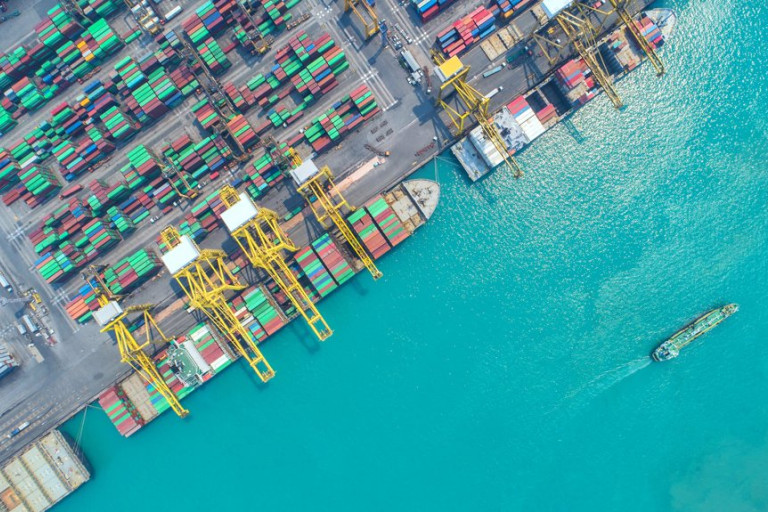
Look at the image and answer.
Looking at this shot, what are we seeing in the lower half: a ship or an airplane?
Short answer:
ship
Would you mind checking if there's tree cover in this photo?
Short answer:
No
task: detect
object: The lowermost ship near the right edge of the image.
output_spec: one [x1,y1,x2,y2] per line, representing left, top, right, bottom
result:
[646,301,738,362]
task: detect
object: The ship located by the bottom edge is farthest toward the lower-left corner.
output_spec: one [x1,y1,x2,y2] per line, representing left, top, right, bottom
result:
[0,423,100,512]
